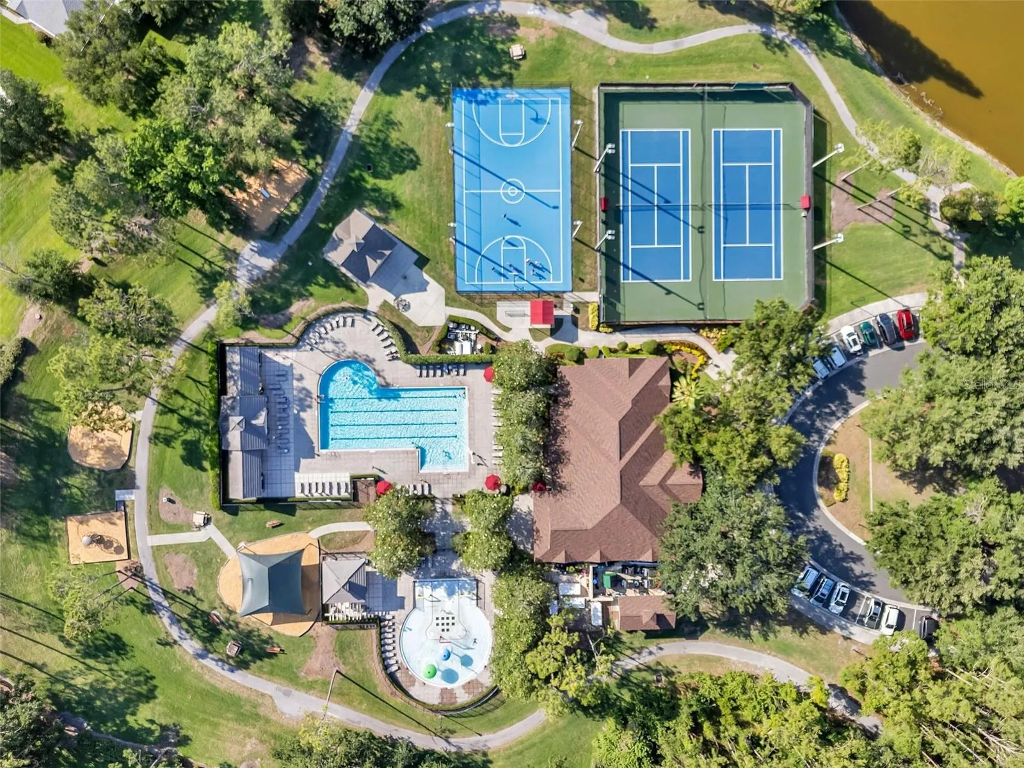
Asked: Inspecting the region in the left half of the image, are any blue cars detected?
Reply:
No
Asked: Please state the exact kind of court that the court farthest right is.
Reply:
tennis court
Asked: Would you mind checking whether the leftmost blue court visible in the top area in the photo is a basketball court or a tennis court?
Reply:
basketball court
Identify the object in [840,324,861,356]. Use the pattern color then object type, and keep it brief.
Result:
white car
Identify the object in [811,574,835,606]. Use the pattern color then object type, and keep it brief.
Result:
blue car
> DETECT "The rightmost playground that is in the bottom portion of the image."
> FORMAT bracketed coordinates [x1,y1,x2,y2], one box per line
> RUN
[217,532,322,637]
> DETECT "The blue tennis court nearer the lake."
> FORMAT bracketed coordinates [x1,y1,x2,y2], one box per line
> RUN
[705,90,806,318]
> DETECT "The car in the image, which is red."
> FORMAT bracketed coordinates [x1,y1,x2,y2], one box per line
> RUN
[896,309,913,341]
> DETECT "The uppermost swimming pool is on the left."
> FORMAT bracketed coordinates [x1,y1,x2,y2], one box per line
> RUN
[318,359,470,473]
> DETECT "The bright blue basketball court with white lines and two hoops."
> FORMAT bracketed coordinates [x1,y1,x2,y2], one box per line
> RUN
[453,89,572,293]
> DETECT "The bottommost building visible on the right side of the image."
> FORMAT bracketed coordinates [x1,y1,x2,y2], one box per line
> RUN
[619,595,676,634]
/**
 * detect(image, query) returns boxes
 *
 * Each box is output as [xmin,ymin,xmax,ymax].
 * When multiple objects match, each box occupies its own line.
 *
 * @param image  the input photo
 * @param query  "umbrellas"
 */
[481,366,492,382]
[484,474,501,491]
[376,480,392,495]
[532,482,547,495]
